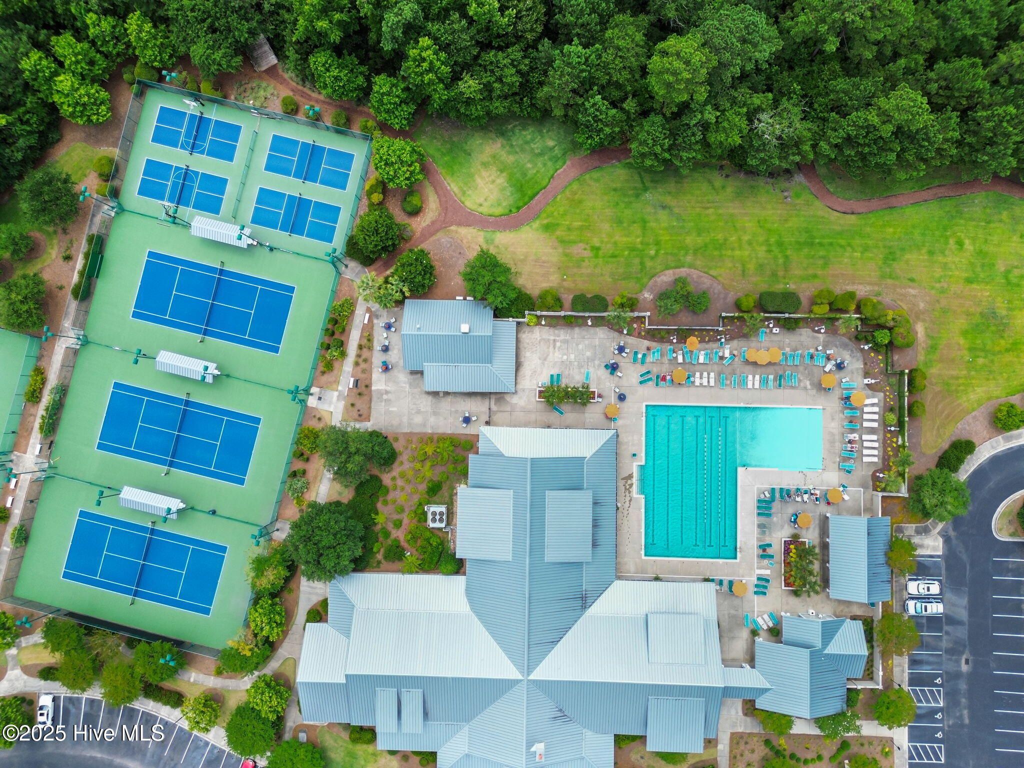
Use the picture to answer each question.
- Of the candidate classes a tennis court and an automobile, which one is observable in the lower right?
automobile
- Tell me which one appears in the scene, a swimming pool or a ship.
swimming pool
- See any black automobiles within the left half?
No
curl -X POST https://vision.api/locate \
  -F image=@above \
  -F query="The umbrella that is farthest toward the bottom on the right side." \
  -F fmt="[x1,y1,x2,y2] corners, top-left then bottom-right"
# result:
[733,582,747,596]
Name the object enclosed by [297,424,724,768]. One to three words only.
building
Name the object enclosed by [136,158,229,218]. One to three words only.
sports court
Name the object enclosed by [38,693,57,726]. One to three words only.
car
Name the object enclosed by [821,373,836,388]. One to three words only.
umbrella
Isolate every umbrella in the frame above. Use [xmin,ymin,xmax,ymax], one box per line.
[733,582,747,596]
[796,513,812,528]
[686,337,699,350]
[850,391,866,406]
[827,488,843,503]
[768,348,782,362]
[756,351,770,364]
[821,373,836,388]
[605,404,619,418]
[745,348,758,362]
